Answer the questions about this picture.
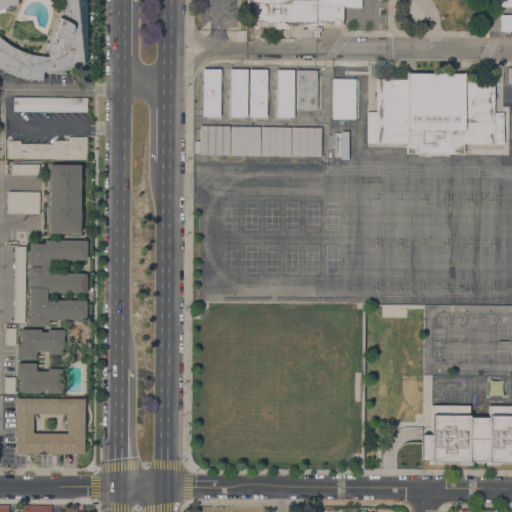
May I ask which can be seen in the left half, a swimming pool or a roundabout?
swimming pool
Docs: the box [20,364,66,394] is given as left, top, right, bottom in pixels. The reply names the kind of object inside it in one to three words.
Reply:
building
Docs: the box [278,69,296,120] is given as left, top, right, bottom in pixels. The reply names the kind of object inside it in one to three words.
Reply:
building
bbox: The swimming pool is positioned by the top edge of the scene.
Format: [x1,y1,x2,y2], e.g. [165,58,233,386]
[18,0,54,34]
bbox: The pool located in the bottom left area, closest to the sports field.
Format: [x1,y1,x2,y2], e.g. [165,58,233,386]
[67,362,88,396]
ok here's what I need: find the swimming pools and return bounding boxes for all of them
[18,0,54,34]
[67,362,88,396]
